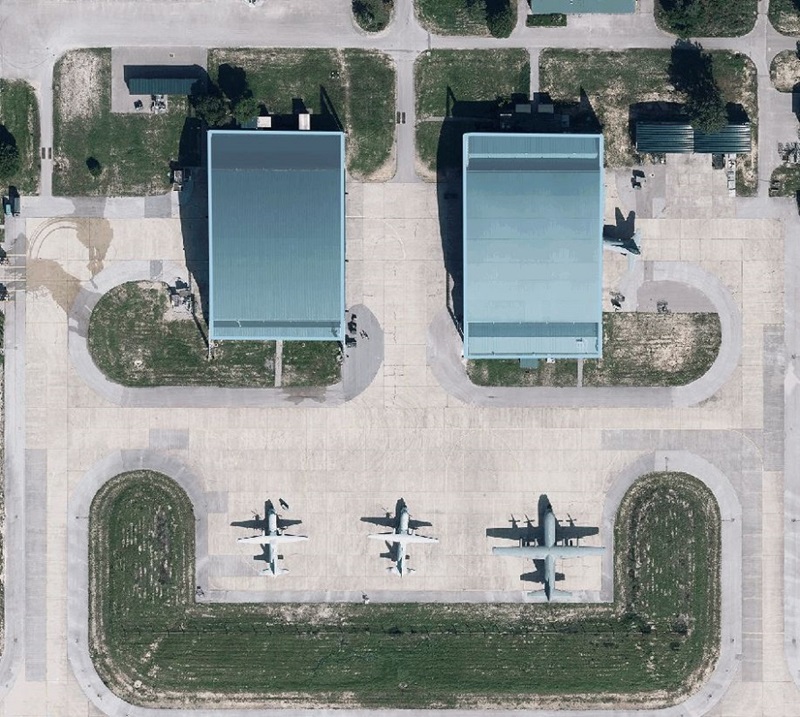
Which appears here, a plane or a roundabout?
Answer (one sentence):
The one in the frame is a plane.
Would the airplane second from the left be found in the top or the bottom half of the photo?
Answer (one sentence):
You can find the airplane second from the left in the bottom half.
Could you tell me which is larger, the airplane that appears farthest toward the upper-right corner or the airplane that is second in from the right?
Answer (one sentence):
Compared with the airplane that appears farthest toward the upper-right corner, the airplane that is second in from the right is the bigger one.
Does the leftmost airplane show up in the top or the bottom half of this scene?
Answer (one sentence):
You can find the leftmost airplane in the bottom half.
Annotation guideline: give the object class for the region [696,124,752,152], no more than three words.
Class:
shed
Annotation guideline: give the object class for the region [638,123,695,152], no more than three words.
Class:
shed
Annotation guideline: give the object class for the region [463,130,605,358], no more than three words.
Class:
hangar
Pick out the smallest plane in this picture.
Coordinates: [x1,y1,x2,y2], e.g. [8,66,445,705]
[605,231,642,269]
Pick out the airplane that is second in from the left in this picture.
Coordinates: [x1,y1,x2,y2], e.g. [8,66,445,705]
[367,508,439,577]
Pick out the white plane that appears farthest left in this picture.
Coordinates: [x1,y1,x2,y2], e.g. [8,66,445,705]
[238,509,309,577]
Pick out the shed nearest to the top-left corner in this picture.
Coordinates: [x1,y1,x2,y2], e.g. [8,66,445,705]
[129,78,197,95]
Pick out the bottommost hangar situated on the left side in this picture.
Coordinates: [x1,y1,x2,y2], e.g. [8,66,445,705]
[207,129,345,362]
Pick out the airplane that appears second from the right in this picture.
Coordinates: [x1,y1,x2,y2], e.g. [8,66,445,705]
[493,505,606,601]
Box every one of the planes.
[367,508,439,577]
[605,231,642,269]
[493,505,606,601]
[238,509,309,577]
